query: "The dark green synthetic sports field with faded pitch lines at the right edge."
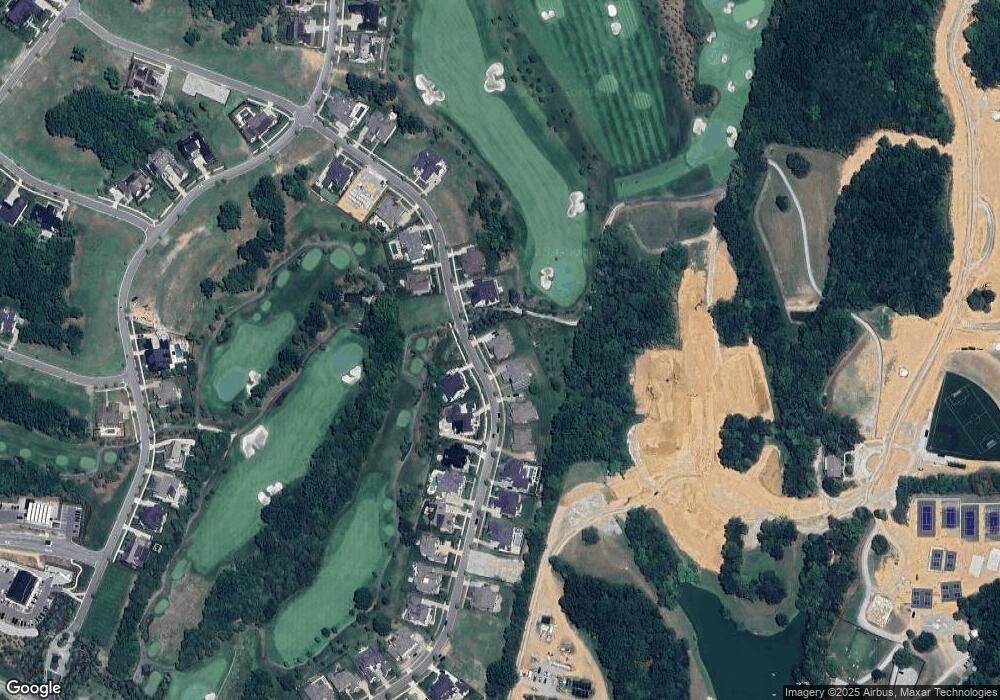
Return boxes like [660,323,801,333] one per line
[928,371,1000,461]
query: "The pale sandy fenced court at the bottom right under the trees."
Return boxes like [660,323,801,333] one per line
[888,666,920,700]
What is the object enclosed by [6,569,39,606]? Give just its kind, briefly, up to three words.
building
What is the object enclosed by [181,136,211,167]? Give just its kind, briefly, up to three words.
house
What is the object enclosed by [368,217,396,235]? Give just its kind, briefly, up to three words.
swimming pool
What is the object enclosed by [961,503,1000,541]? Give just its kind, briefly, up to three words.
tennis court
